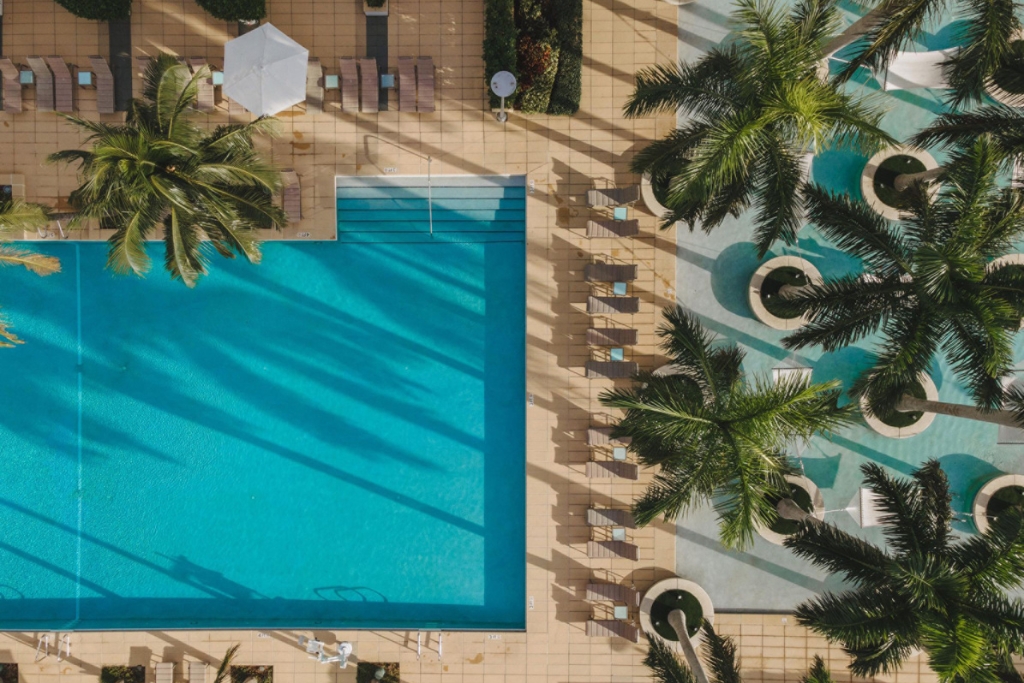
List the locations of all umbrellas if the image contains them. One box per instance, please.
[223,22,310,119]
